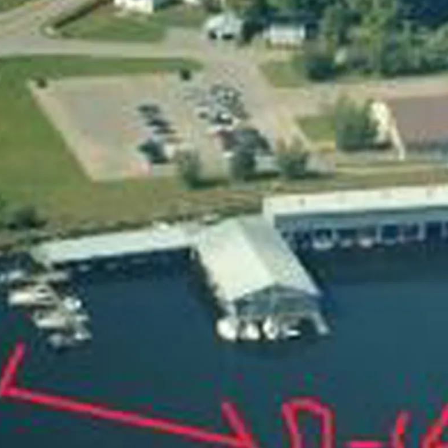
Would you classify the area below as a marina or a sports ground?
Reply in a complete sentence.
What you see here is a marina.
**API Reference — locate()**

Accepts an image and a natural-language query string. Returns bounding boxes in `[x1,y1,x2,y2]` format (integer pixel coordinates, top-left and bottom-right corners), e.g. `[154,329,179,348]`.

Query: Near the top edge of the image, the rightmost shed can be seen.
[266,22,305,47]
